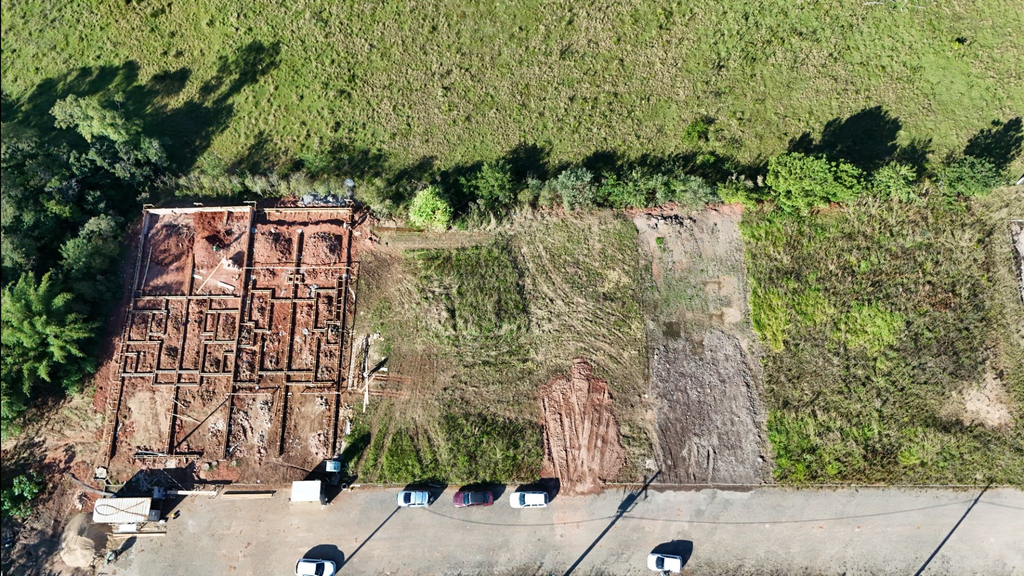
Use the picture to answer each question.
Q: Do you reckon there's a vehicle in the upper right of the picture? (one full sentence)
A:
No, there is no vehicle in the upper right of the picture.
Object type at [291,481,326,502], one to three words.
shed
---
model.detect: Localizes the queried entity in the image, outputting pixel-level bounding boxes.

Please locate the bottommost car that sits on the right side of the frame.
[647,554,683,576]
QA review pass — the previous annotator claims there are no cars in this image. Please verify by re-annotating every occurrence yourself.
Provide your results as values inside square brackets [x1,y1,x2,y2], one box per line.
[454,490,494,507]
[647,554,683,576]
[509,491,548,508]
[295,558,338,576]
[396,490,433,507]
